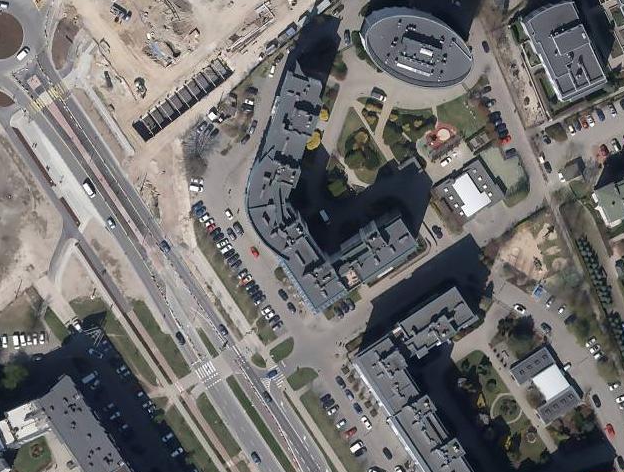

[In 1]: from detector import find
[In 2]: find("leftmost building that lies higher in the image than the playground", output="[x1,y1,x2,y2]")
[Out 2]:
[361,1,474,88]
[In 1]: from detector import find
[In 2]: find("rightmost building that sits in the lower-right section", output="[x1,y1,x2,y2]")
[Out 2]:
[511,347,581,424]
